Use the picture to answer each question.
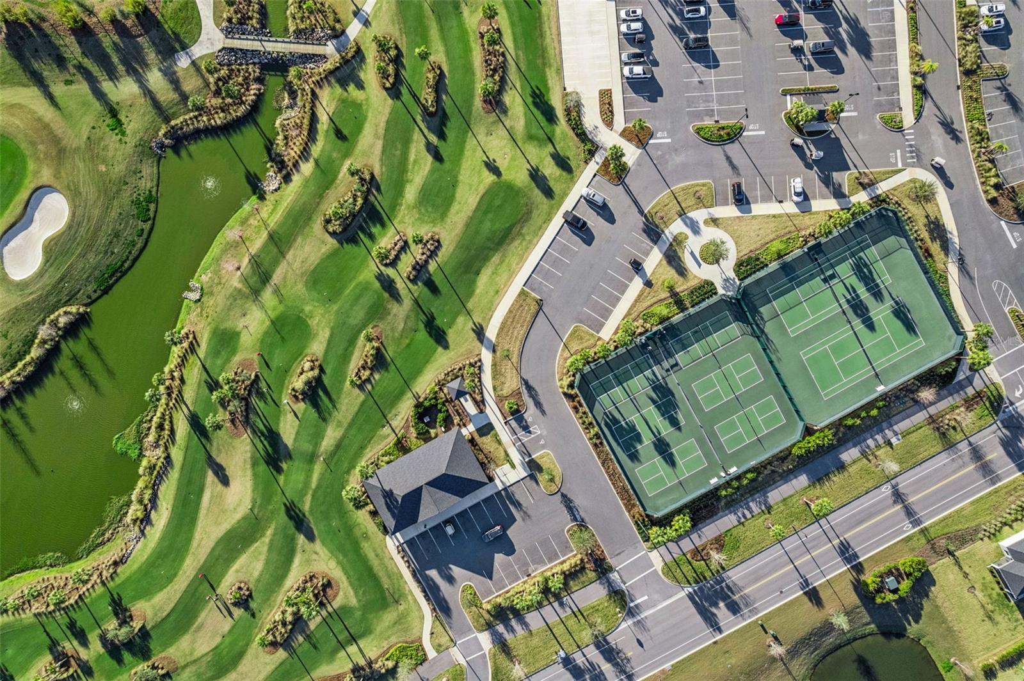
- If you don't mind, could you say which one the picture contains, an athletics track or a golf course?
golf course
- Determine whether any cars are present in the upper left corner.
No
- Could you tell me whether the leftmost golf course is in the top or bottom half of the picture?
top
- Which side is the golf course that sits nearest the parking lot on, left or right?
left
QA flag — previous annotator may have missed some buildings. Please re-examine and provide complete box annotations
[363,427,489,535]
[446,377,469,400]
[994,530,1024,606]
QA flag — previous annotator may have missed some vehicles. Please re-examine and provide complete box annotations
[774,13,800,26]
[561,209,588,231]
[683,5,706,19]
[622,51,645,64]
[788,137,803,149]
[807,151,823,161]
[683,35,709,49]
[978,18,1004,32]
[927,157,944,168]
[978,3,1005,15]
[731,181,744,205]
[481,524,505,542]
[682,0,706,6]
[555,645,567,659]
[790,177,803,203]
[582,188,606,207]
[623,65,652,79]
[629,259,642,270]
[788,40,802,51]
[633,34,645,45]
[619,7,642,21]
[808,40,835,53]
[620,21,643,35]
[445,521,456,535]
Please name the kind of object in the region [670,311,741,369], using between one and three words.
sports court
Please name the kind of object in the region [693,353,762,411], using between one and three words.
sports court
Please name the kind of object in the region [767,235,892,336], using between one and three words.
tennis court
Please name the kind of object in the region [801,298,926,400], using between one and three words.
tennis court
